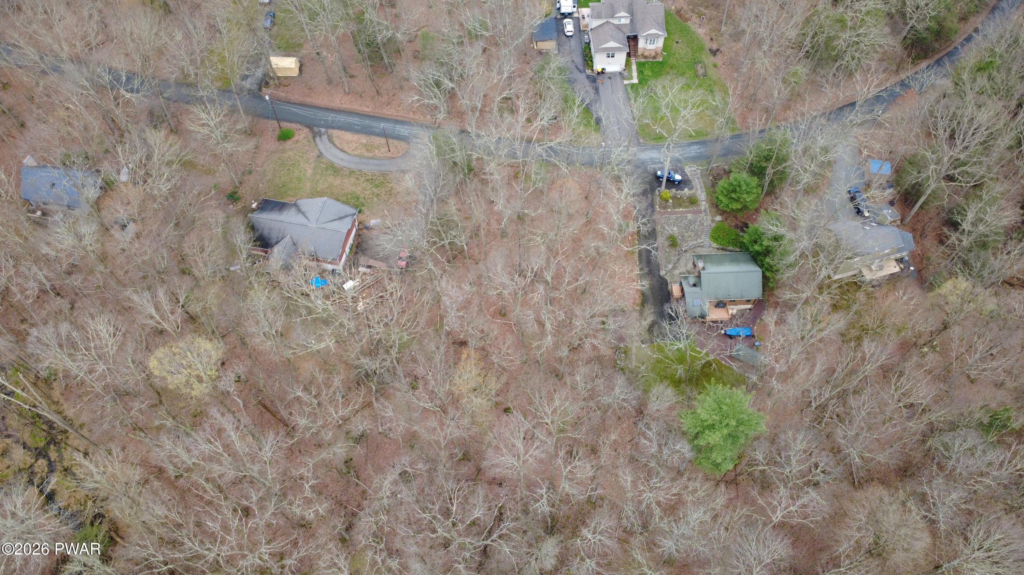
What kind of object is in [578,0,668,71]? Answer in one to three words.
house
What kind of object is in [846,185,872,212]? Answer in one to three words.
truck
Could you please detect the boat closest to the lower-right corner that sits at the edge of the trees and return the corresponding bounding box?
[719,325,753,339]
